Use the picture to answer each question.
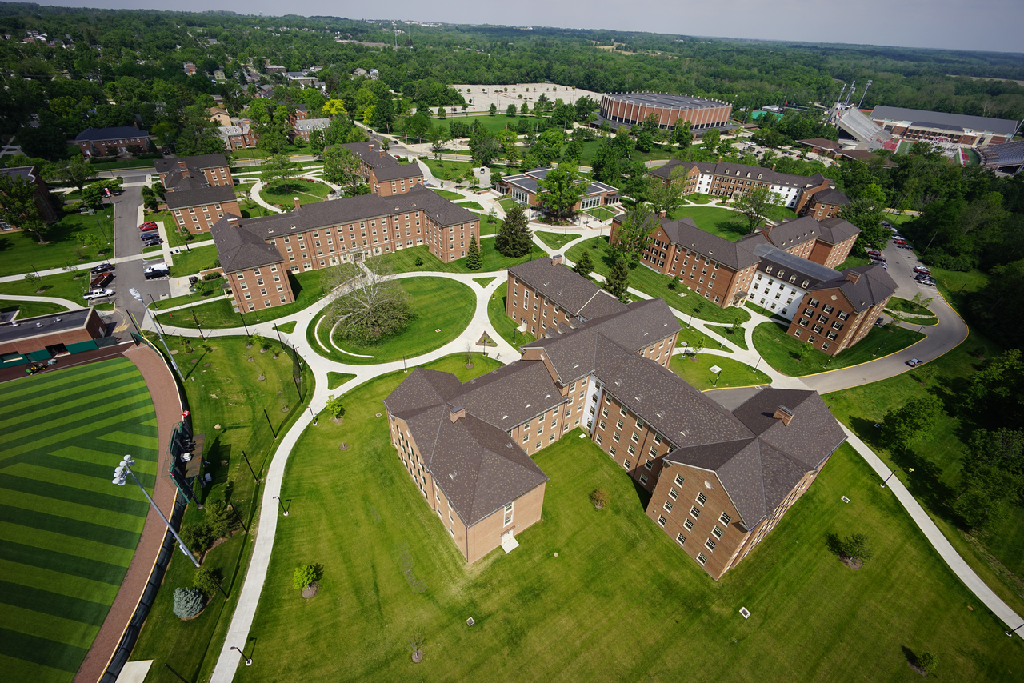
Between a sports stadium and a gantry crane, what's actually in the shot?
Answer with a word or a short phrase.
sports stadium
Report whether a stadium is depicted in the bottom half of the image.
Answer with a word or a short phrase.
No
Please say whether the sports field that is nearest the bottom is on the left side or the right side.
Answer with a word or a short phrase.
left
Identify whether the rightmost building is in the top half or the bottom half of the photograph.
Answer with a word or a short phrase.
top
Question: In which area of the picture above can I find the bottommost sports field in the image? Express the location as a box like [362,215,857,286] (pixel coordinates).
[0,357,159,683]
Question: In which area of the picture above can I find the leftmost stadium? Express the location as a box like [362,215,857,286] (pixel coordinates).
[576,90,753,142]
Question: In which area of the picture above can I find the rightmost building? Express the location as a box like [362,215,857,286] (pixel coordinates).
[869,108,1017,150]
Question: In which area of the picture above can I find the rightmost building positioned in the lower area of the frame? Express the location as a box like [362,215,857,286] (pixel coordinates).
[383,250,850,573]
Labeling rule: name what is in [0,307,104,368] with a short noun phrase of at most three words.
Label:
building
